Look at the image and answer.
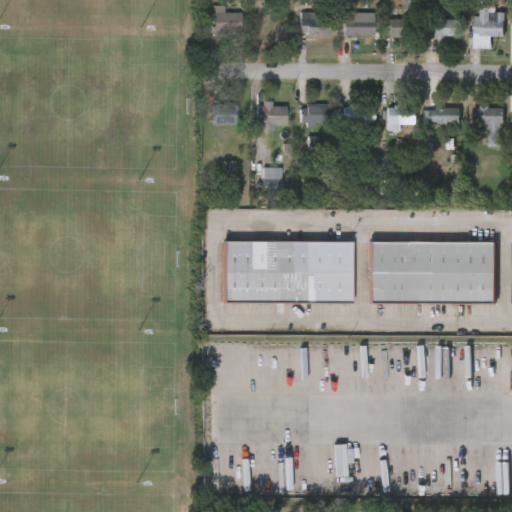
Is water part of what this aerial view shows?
No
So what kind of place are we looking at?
sports ground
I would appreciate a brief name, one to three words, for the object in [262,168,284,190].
building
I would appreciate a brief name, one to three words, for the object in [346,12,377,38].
house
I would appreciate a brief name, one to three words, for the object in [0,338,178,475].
sports field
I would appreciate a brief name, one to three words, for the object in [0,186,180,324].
sports field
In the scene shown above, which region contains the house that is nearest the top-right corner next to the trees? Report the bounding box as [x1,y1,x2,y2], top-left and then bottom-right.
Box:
[472,7,505,49]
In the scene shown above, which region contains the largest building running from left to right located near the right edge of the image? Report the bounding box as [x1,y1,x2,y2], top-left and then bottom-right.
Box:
[370,242,496,303]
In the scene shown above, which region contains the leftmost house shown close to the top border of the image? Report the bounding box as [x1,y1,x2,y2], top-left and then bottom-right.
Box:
[214,6,244,36]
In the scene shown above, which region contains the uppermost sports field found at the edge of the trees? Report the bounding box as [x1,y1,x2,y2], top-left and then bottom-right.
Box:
[0,34,181,172]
